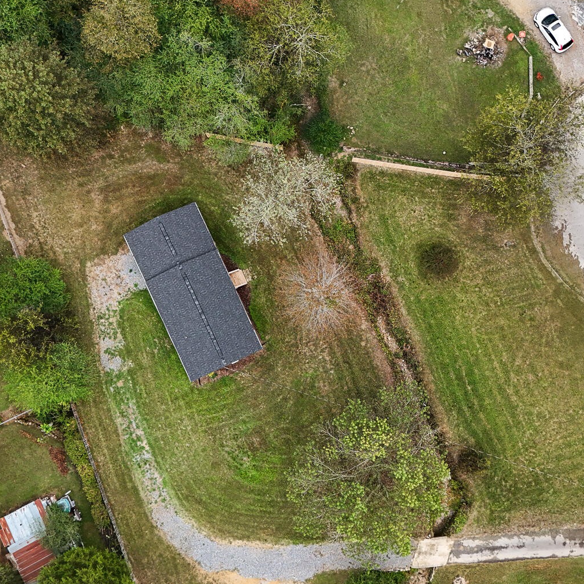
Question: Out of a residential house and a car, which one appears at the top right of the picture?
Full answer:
What appears at the top right of the picture is a car.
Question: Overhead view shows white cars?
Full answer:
Yes, you can see a white car in this photo.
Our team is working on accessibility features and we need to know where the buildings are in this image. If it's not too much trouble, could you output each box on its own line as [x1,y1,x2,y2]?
[123,202,268,386]
[0,499,59,584]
